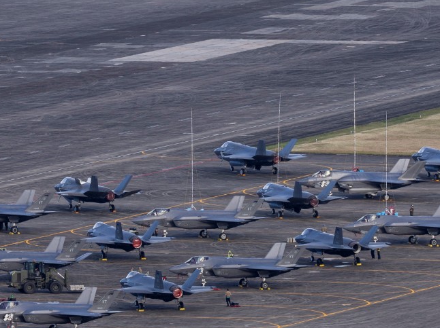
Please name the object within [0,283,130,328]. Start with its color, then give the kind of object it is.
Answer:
gray airplane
